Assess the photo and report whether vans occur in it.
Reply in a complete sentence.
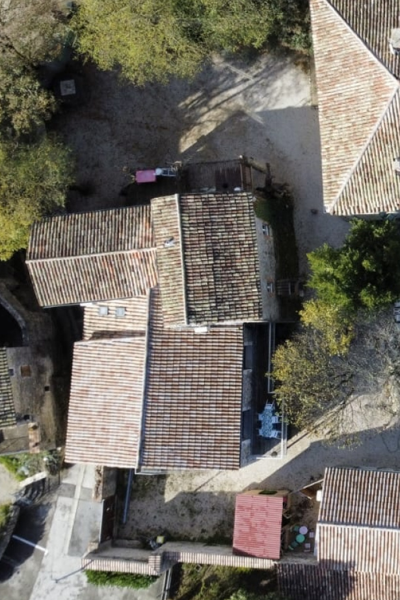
No, no van is visible in the view.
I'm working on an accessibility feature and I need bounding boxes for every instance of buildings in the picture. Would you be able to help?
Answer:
[0,346,53,431]
[233,487,292,559]
[277,461,400,600]
[309,0,400,226]
[25,191,287,474]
